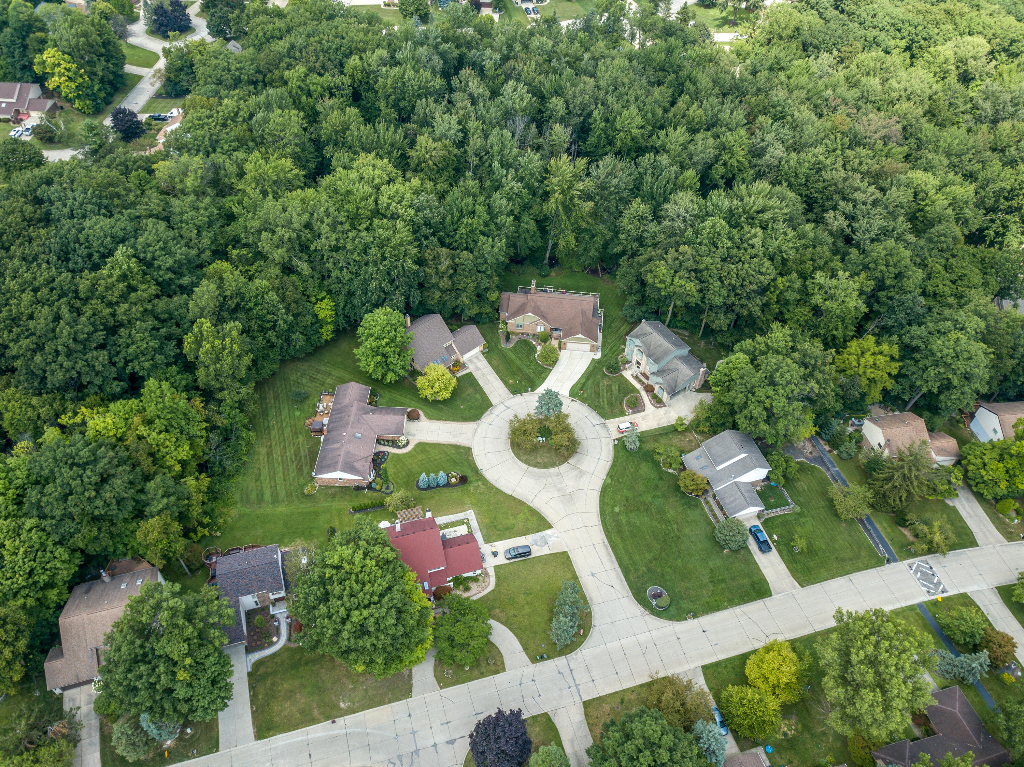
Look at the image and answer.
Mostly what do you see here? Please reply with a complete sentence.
What you mostly see from above here is trees.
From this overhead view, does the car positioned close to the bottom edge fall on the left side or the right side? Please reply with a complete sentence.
The car positioned close to the bottom edge sits on the right side.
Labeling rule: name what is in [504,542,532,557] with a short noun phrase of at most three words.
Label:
vehicle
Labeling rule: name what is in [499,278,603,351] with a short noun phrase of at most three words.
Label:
house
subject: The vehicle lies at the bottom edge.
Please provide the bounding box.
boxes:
[708,704,731,737]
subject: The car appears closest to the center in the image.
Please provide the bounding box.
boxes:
[618,421,639,433]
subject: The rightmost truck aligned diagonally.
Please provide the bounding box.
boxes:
[751,524,774,553]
